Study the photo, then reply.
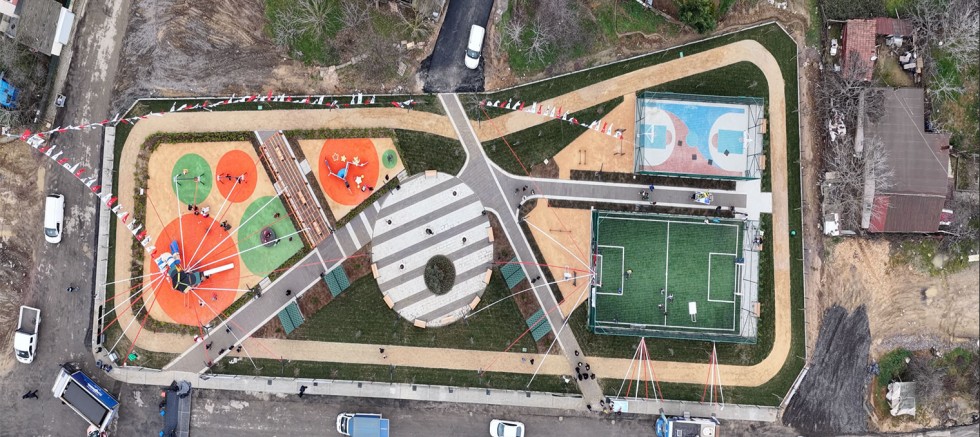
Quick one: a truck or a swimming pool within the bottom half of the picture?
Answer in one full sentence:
It is a truck that can be seen within the bottom half of the picture.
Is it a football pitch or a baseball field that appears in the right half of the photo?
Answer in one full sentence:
What appears in the right half of the photo is a football pitch.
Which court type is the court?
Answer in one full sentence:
From above, the court can be identified as a basketball court.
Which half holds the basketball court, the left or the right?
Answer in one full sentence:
The basketball court is on the right side of the image.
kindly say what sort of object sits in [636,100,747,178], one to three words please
basketball court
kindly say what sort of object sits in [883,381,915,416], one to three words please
shed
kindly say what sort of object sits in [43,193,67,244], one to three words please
vehicle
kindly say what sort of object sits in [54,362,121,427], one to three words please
truck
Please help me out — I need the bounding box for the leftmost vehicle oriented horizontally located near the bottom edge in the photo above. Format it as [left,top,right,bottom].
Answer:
[335,412,387,437]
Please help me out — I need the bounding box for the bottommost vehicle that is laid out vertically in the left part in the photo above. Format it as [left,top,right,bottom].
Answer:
[12,306,44,363]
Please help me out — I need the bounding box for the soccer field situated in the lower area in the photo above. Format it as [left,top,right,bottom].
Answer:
[591,210,744,336]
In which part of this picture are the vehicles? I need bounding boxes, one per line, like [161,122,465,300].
[657,415,723,437]
[335,412,387,437]
[54,362,121,427]
[489,420,525,437]
[43,193,67,244]
[12,306,44,363]
[464,25,483,73]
